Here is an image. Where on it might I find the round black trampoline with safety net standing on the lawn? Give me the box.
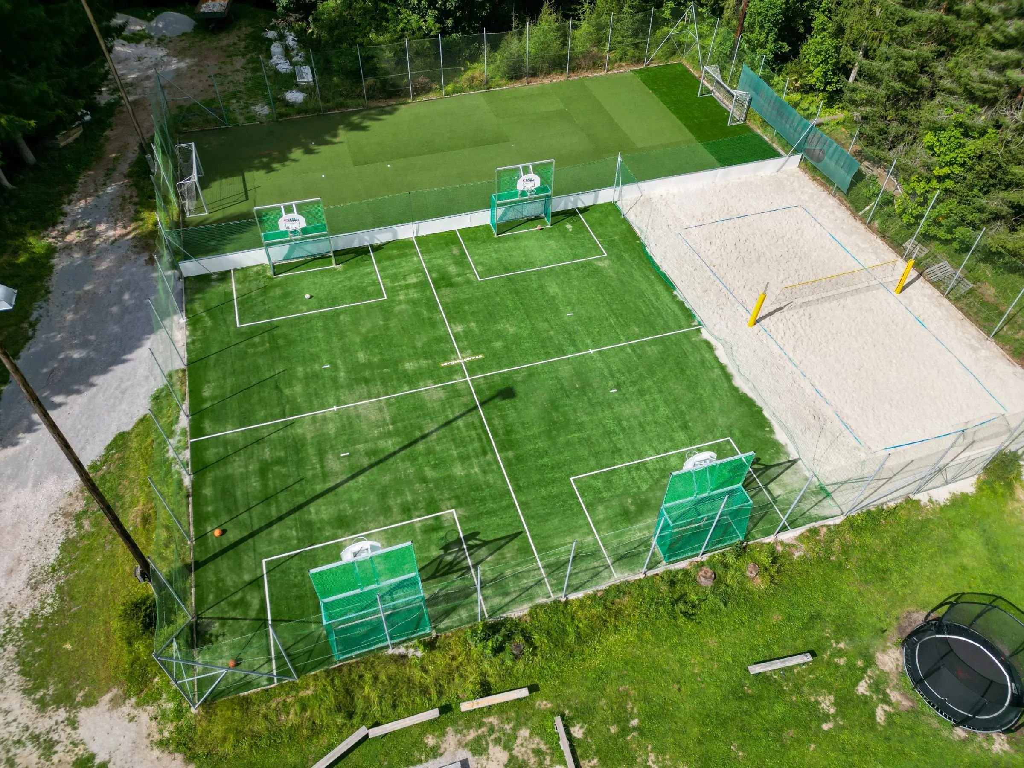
[894,600,1024,738]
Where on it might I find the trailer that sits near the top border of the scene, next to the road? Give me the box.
[193,0,238,33]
